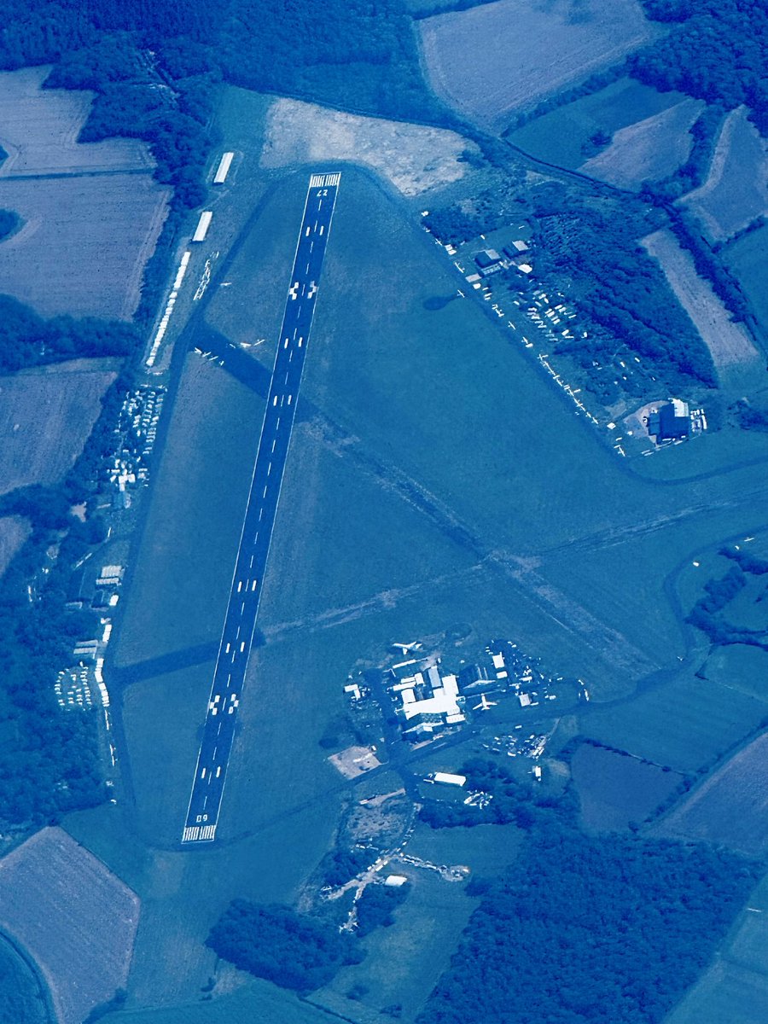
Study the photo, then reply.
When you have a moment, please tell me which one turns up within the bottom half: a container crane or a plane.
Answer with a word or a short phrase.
plane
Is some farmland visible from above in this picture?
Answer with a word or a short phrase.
Yes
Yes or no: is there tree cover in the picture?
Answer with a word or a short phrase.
Yes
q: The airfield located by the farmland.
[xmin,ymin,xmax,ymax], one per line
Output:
[58,86,768,898]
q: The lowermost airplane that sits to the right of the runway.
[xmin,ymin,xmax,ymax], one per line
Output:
[471,693,497,709]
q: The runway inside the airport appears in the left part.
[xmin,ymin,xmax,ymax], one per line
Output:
[181,170,342,844]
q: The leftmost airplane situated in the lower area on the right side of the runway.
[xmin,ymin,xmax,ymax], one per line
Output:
[393,638,423,654]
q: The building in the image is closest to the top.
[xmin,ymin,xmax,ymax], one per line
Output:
[214,153,233,185]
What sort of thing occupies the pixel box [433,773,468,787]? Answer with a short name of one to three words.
hangar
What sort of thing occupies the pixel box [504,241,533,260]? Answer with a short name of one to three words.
building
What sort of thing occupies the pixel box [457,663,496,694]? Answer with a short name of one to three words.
hangar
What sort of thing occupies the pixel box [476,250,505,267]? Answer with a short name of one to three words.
building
